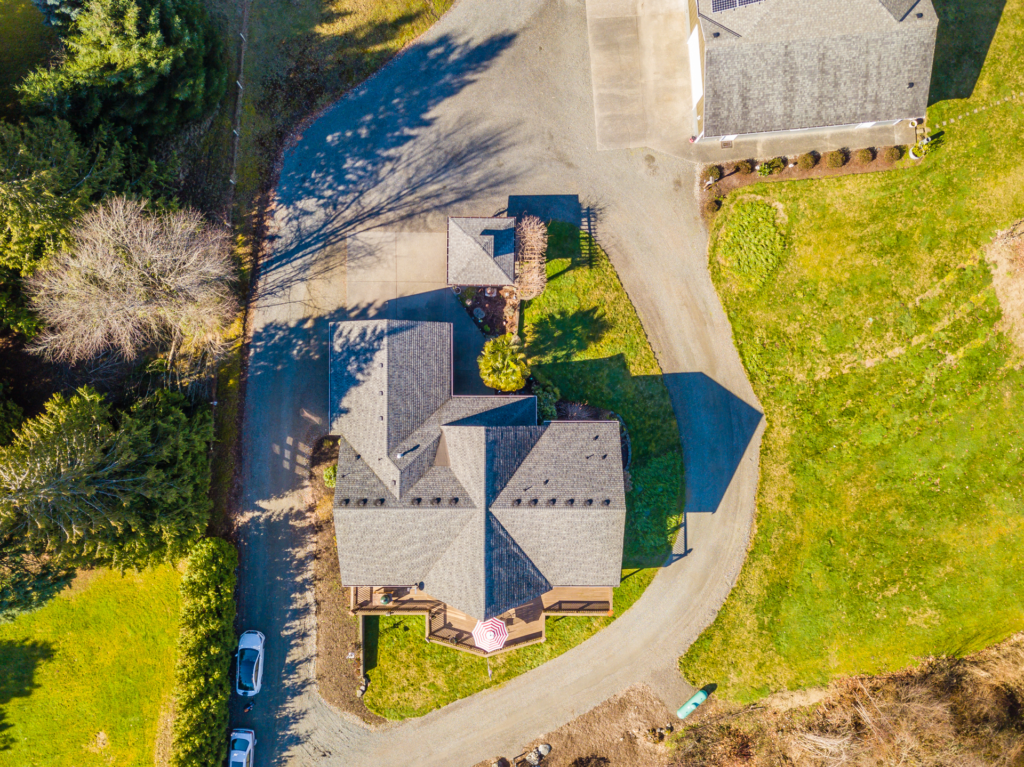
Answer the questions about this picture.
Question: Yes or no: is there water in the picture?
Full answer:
No, the picture contains no water.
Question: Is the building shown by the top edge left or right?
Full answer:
You can find the building shown by the top edge on the right side of the picture.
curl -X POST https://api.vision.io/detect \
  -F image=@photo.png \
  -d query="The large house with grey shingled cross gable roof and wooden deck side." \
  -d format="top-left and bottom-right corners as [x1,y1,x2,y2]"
[327,319,626,621]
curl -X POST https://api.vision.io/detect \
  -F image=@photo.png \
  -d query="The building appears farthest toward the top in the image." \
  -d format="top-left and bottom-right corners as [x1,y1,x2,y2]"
[682,0,942,144]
